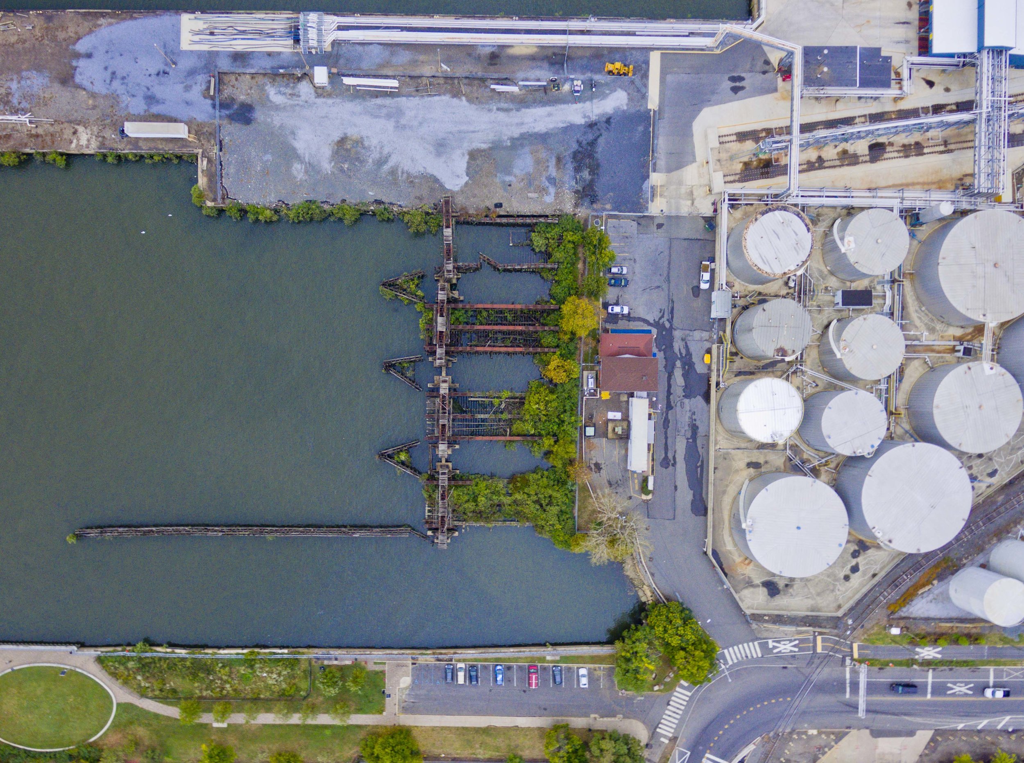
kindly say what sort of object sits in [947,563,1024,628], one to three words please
silo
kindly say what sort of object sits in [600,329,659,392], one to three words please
building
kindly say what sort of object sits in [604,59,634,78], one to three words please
work vehicle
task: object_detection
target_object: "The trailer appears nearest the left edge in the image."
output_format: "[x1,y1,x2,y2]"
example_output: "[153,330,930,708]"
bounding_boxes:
[125,122,191,139]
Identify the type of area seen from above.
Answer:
industrial area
